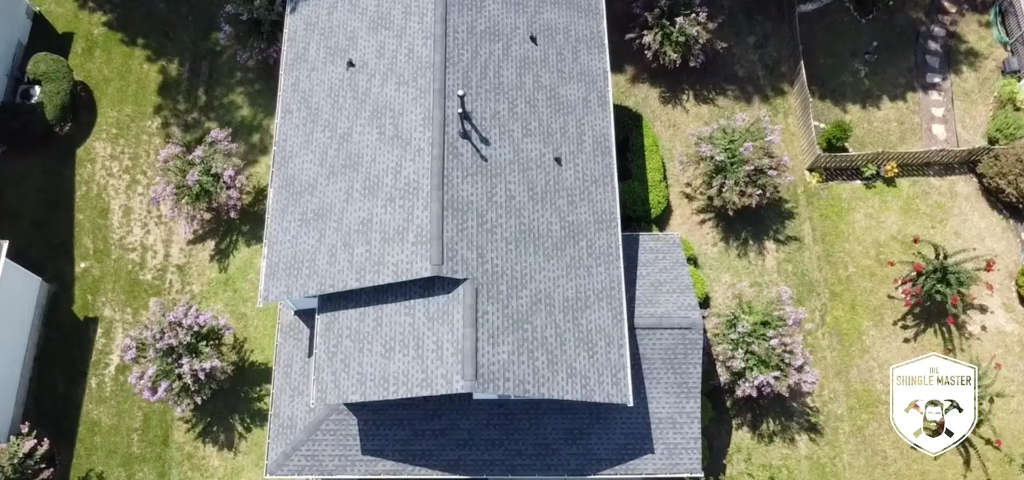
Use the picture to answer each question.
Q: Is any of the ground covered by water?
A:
No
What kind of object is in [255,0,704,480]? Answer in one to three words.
house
